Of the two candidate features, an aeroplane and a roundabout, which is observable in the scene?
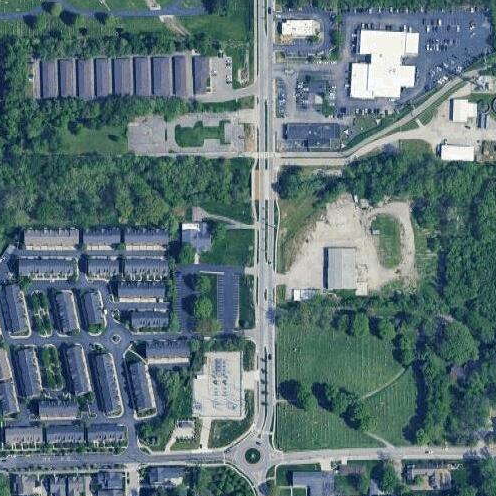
roundabout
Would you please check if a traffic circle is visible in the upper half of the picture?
No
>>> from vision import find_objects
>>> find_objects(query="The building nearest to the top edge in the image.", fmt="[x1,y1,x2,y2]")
[282,20,314,37]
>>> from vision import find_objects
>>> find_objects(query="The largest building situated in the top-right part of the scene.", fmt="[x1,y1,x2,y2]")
[351,29,419,98]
